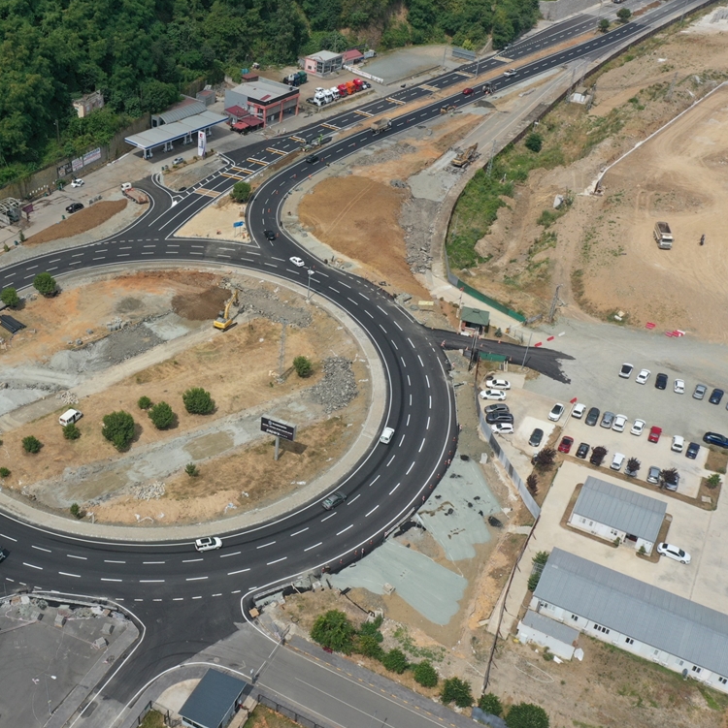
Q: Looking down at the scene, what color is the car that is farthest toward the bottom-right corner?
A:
white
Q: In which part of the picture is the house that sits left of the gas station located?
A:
top left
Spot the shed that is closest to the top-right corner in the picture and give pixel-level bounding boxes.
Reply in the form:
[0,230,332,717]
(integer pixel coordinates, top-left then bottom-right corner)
[563,85,593,105]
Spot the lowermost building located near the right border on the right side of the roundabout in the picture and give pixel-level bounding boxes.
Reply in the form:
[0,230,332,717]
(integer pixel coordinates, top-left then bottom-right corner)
[531,549,728,695]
